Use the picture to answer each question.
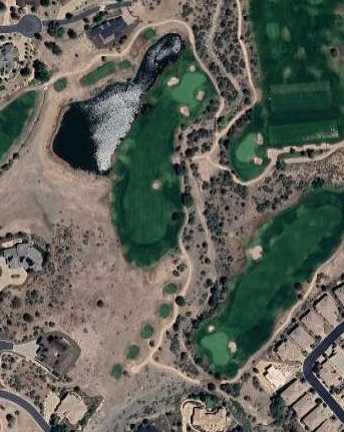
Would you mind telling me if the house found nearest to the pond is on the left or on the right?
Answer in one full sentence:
The house found nearest to the pond appears in the left half of the scene.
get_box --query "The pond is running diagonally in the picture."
[53,33,184,175]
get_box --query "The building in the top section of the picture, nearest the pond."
[88,8,129,48]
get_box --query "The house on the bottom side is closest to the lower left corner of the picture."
[56,395,90,421]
